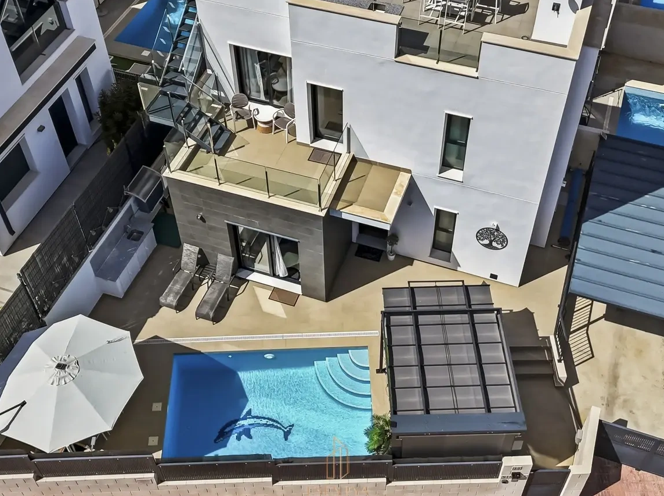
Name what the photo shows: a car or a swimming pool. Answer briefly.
swimming pool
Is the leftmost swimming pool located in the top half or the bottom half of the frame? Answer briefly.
top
